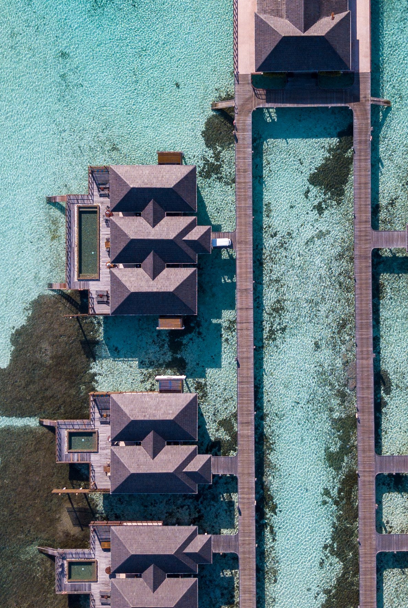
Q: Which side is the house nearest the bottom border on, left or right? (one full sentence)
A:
The house nearest the bottom border sits on the left side.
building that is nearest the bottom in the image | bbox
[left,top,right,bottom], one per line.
[40,518,213,608]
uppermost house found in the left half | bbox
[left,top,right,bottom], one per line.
[49,150,213,330]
